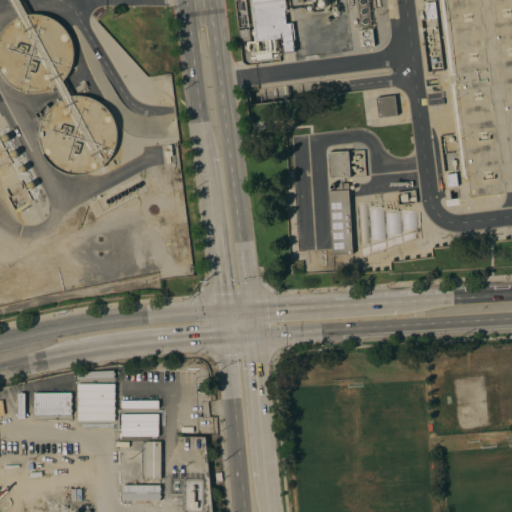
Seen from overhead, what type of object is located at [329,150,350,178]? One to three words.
building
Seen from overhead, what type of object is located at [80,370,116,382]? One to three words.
shed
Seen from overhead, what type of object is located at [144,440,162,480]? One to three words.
shed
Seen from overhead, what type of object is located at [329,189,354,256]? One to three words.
building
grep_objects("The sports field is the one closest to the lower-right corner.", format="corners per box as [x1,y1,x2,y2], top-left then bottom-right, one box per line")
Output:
[445,448,512,512]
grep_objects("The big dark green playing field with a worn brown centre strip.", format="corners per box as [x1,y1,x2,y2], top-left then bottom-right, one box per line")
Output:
[292,384,432,512]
